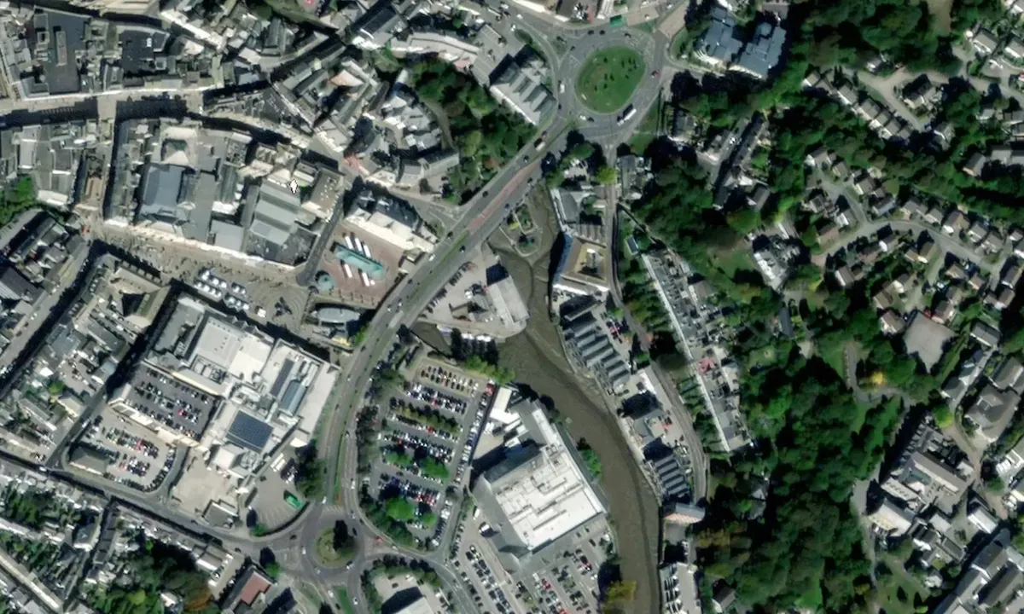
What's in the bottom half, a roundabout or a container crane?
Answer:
roundabout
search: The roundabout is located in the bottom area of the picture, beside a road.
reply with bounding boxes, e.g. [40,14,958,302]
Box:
[301,511,370,581]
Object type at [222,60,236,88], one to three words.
building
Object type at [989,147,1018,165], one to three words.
house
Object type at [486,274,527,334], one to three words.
shed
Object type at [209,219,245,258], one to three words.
building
